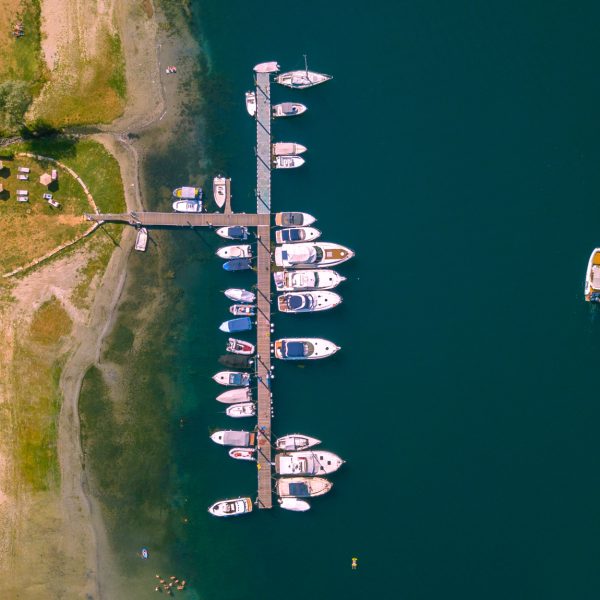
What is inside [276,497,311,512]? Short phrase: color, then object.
white boat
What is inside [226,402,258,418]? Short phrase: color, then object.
white boat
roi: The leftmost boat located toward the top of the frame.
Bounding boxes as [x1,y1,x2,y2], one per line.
[134,228,146,251]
